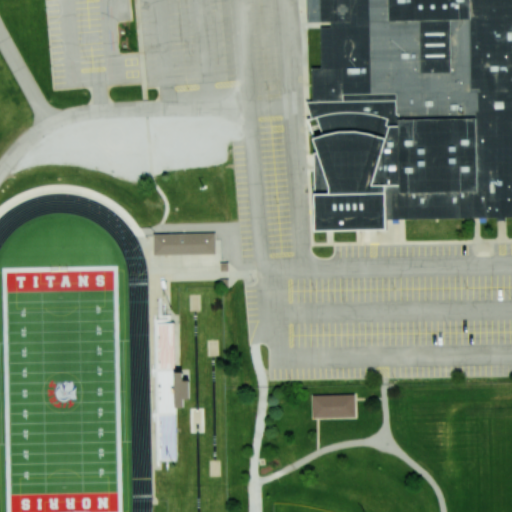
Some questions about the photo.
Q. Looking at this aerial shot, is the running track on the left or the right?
left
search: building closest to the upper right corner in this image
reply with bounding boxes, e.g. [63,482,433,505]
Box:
[308,0,512,230]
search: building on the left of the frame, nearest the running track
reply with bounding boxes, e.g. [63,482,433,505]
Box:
[154,233,215,255]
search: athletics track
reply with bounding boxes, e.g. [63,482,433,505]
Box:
[0,184,160,512]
